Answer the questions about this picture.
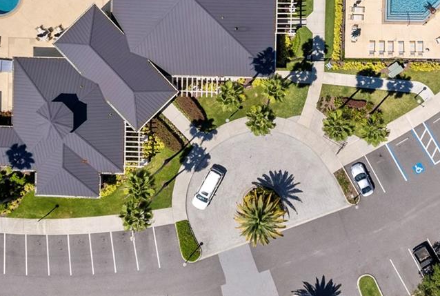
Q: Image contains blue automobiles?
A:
No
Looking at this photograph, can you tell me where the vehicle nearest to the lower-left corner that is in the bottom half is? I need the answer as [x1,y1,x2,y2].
[194,167,223,208]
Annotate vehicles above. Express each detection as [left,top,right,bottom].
[350,162,374,201]
[194,167,223,208]
[414,243,440,290]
